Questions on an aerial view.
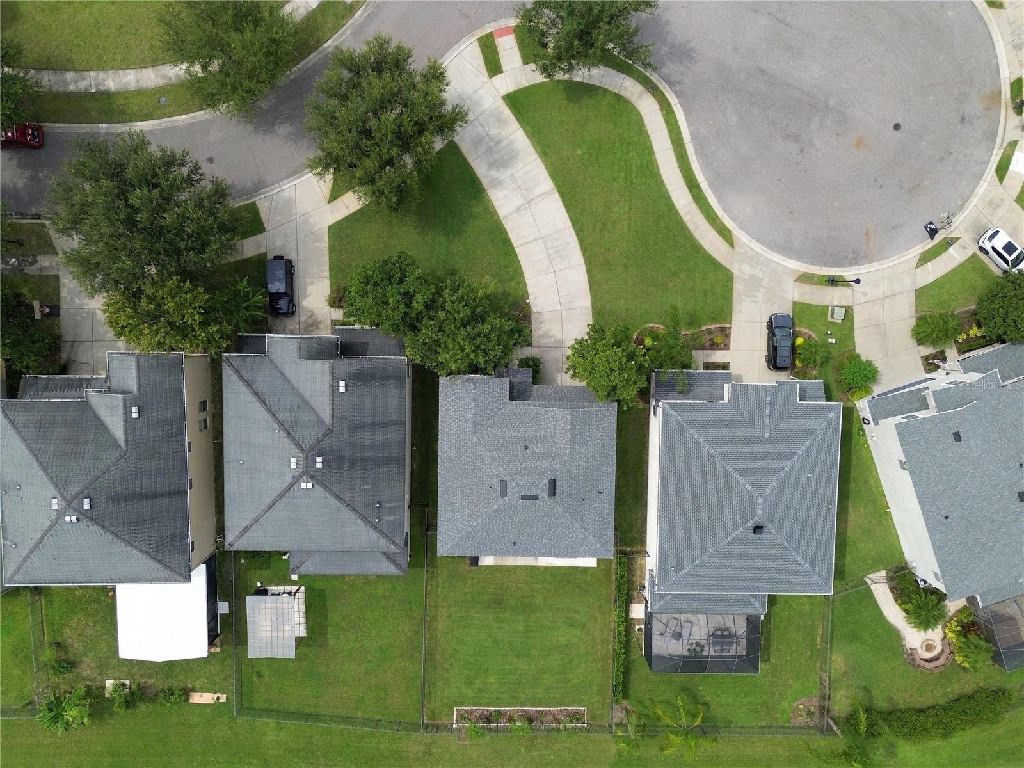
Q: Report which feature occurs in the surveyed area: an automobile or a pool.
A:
automobile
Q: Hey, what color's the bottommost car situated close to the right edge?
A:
white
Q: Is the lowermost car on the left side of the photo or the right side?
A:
right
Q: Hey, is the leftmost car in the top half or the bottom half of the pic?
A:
top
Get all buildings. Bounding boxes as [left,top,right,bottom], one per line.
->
[220,326,413,575]
[646,369,841,615]
[856,341,1024,608]
[0,350,217,587]
[437,368,615,558]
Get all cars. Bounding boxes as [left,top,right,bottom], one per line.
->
[764,313,797,369]
[978,225,1024,281]
[0,121,45,154]
[266,254,299,315]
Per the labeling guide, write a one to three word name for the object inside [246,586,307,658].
gazebo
